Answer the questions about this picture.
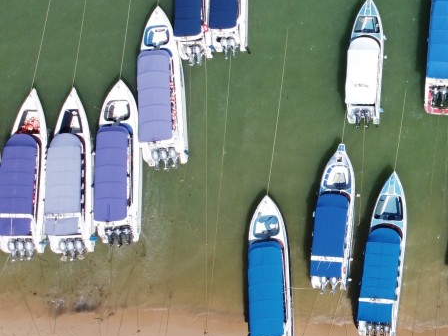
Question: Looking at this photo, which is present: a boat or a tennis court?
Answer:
boat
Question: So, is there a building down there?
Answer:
No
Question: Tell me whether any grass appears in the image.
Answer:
No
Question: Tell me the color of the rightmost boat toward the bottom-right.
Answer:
blue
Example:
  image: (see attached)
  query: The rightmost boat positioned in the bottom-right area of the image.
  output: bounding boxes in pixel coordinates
[357,170,406,336]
